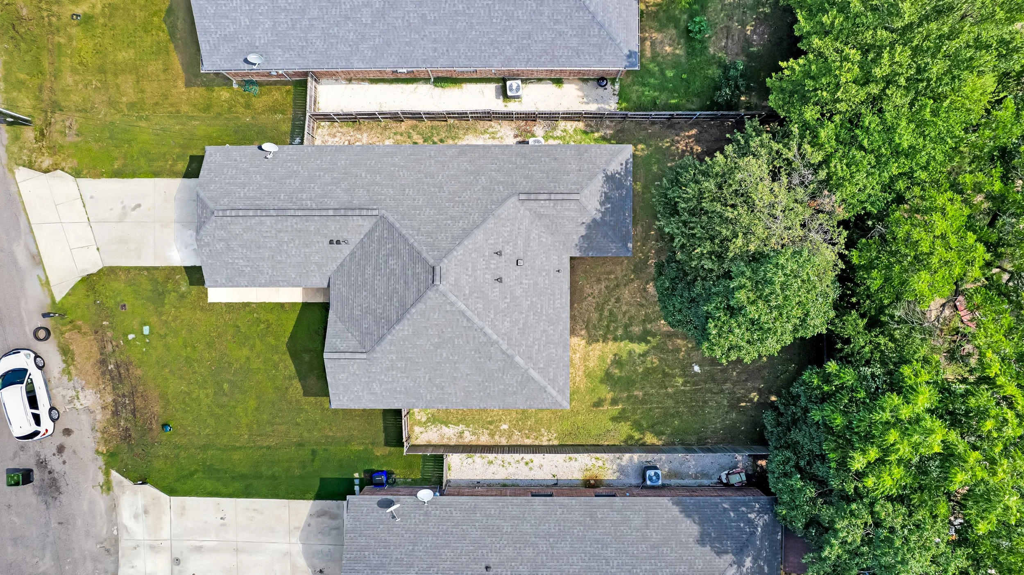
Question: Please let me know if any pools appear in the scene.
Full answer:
No, I find no pool anywhere in the image.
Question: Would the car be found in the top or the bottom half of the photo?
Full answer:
You can find the car in the bottom half.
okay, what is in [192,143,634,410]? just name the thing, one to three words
house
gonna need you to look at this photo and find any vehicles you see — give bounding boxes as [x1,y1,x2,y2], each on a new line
[0,347,60,443]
